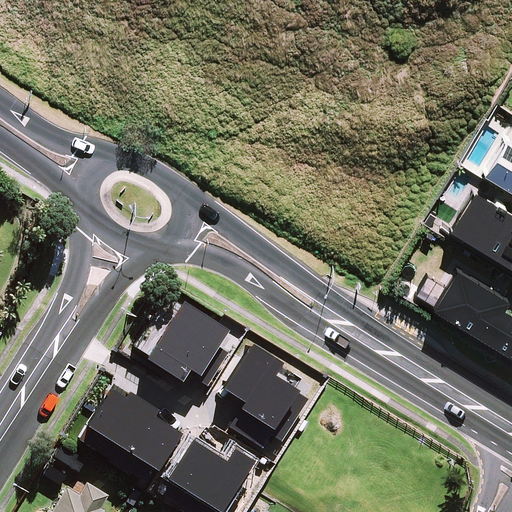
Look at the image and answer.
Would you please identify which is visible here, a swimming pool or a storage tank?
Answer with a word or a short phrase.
swimming pool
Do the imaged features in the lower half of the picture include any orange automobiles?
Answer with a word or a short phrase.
Yes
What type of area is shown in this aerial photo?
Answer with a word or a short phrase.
residential area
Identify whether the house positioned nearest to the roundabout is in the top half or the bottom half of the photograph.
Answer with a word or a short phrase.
bottom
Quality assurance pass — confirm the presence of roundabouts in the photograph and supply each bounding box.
[100,170,172,232]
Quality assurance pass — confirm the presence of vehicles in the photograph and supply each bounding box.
[8,362,28,388]
[160,406,182,424]
[70,136,96,154]
[55,362,78,390]
[442,400,468,420]
[38,392,60,417]
[322,324,352,350]
[196,202,222,224]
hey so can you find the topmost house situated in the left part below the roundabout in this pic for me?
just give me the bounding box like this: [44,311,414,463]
[149,295,230,384]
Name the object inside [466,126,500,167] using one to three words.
swimming pool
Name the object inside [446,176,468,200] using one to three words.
swimming pool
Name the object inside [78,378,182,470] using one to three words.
house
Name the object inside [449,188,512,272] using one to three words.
house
